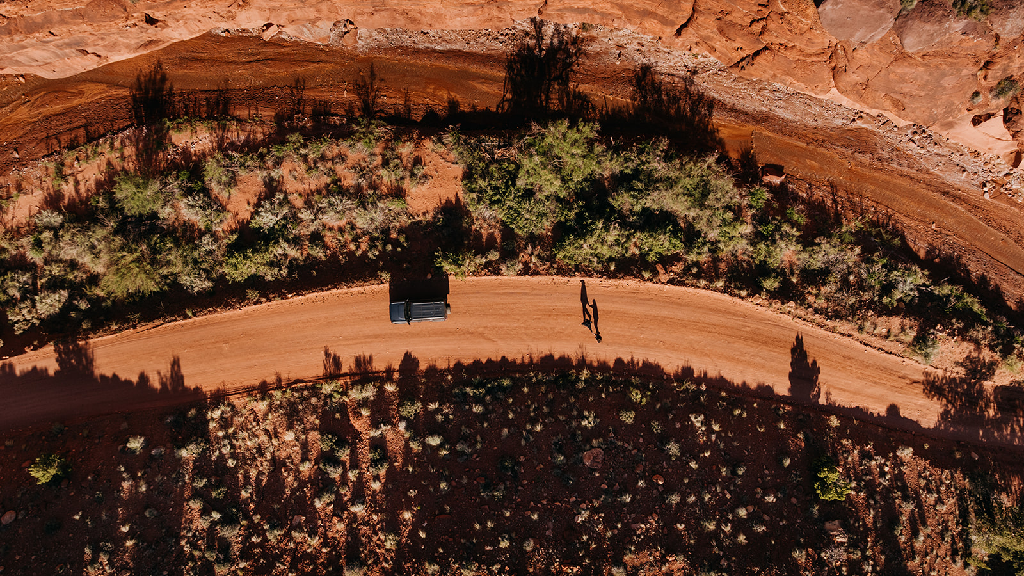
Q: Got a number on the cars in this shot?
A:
1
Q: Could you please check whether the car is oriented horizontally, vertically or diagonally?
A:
horizontally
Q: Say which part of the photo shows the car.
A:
center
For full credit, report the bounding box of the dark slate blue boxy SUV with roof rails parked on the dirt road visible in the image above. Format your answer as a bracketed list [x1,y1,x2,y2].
[390,297,452,326]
